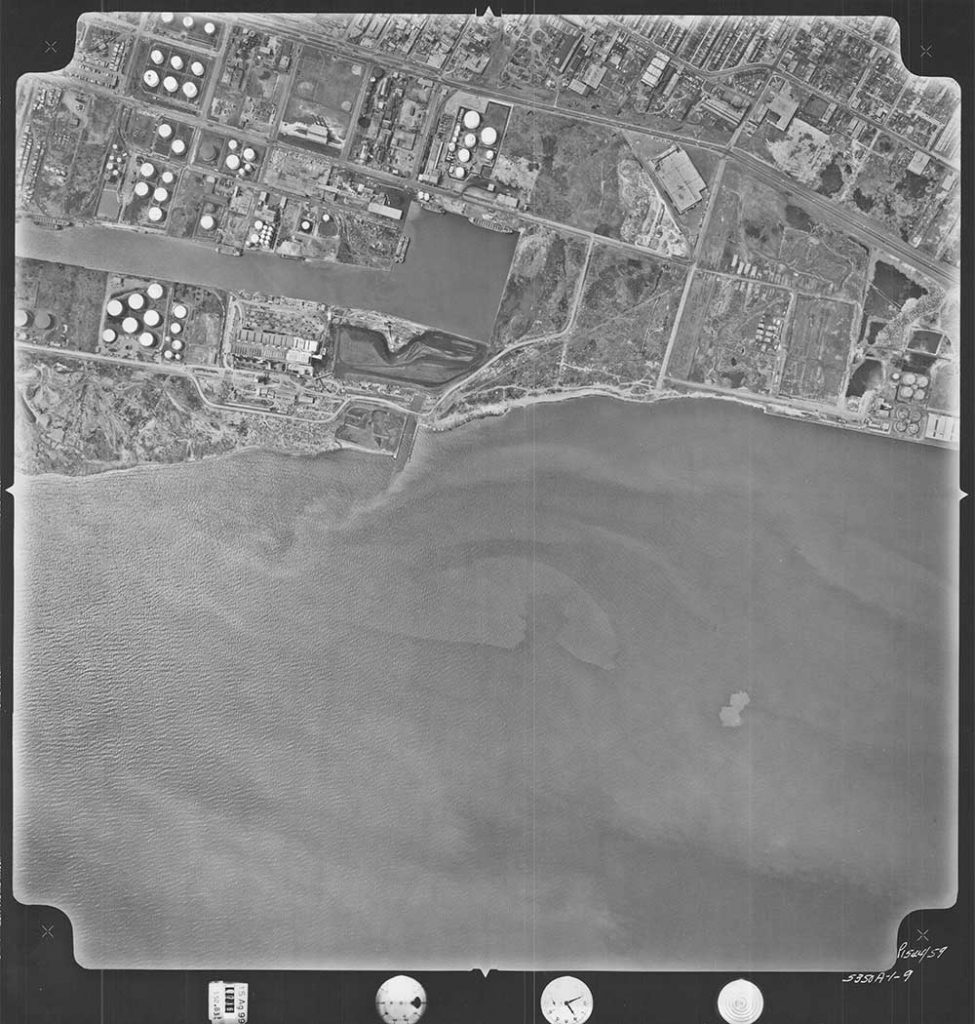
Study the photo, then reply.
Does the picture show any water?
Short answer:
Yes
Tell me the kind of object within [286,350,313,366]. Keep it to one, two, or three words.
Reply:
building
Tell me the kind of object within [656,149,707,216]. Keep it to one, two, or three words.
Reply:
building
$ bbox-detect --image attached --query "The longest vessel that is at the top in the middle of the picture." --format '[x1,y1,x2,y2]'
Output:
[469,219,511,233]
